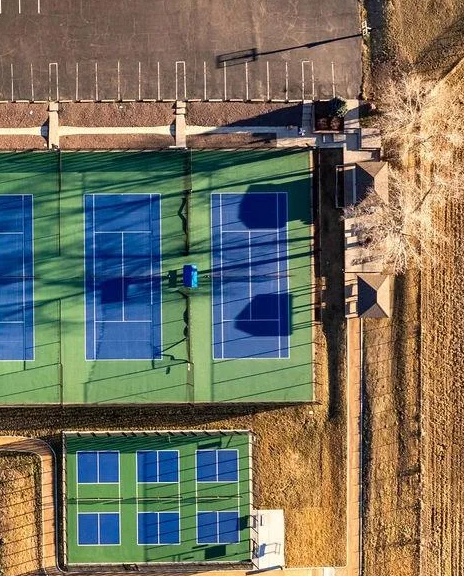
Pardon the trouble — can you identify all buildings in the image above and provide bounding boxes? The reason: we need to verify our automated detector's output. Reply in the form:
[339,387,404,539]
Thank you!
[353,274,390,318]
[328,161,388,208]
